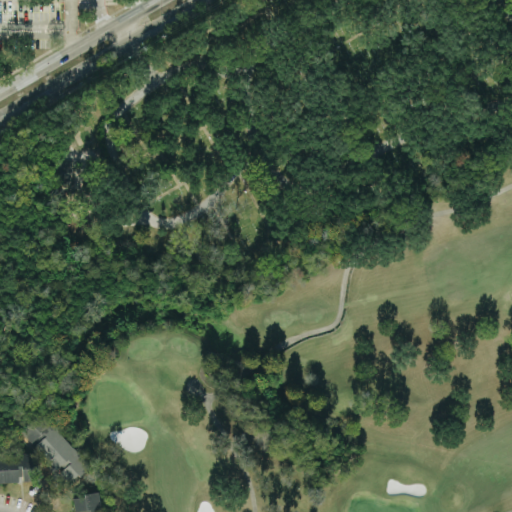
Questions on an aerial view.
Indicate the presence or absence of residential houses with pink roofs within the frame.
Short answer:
No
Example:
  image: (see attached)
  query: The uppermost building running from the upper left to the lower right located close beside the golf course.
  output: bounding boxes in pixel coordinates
[25,430,88,482]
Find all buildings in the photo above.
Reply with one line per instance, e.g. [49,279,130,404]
[0,462,30,486]
[25,430,88,482]
[73,494,99,512]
